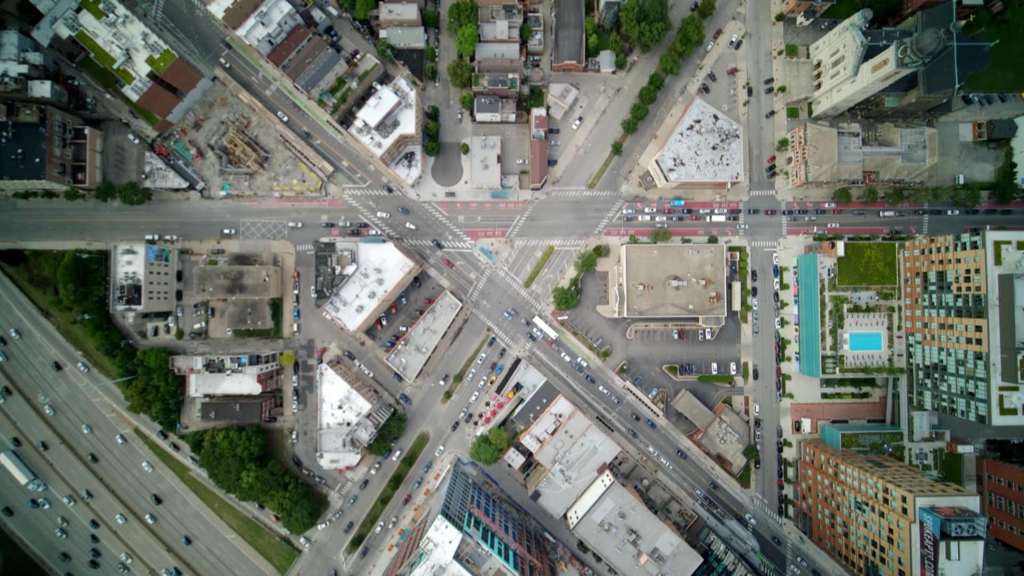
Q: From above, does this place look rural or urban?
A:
urban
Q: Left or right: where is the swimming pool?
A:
right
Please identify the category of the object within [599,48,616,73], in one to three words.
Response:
shed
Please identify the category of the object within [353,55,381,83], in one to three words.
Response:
building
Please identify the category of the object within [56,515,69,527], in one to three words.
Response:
vehicle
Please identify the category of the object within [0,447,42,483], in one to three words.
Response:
truck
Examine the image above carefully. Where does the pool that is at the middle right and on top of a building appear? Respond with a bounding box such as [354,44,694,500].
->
[842,330,884,352]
